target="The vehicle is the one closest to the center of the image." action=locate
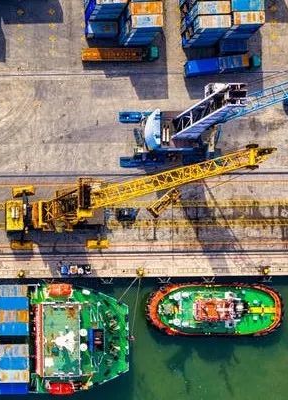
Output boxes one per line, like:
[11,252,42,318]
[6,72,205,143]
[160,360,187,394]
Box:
[116,206,140,219]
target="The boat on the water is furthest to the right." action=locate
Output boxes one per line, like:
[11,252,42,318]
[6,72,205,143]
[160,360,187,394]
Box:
[142,281,283,339]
